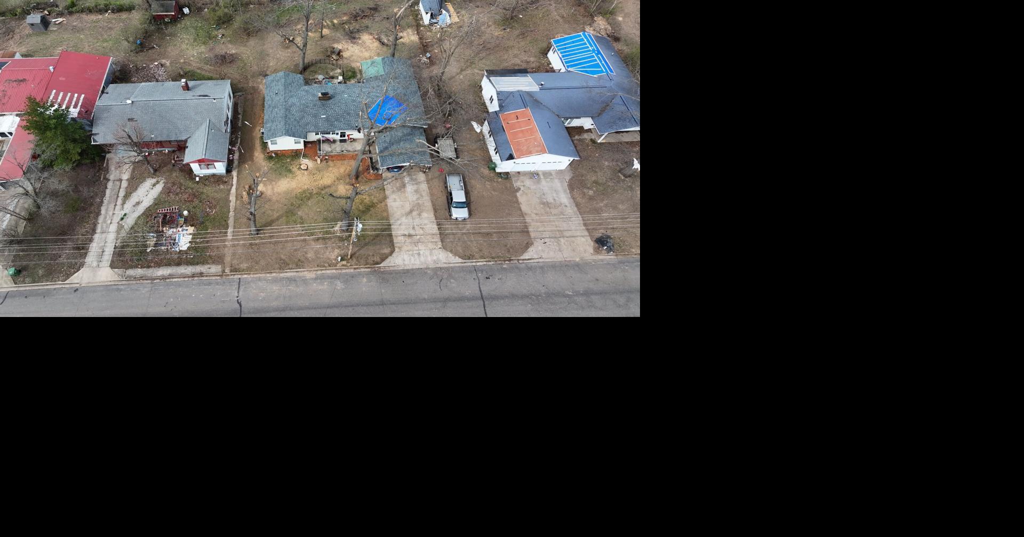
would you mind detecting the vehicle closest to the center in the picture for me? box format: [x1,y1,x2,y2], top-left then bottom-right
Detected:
[441,170,471,223]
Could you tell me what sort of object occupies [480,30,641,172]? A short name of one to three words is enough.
house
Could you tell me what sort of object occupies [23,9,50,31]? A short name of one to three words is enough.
shed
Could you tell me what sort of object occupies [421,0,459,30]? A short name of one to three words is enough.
shed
